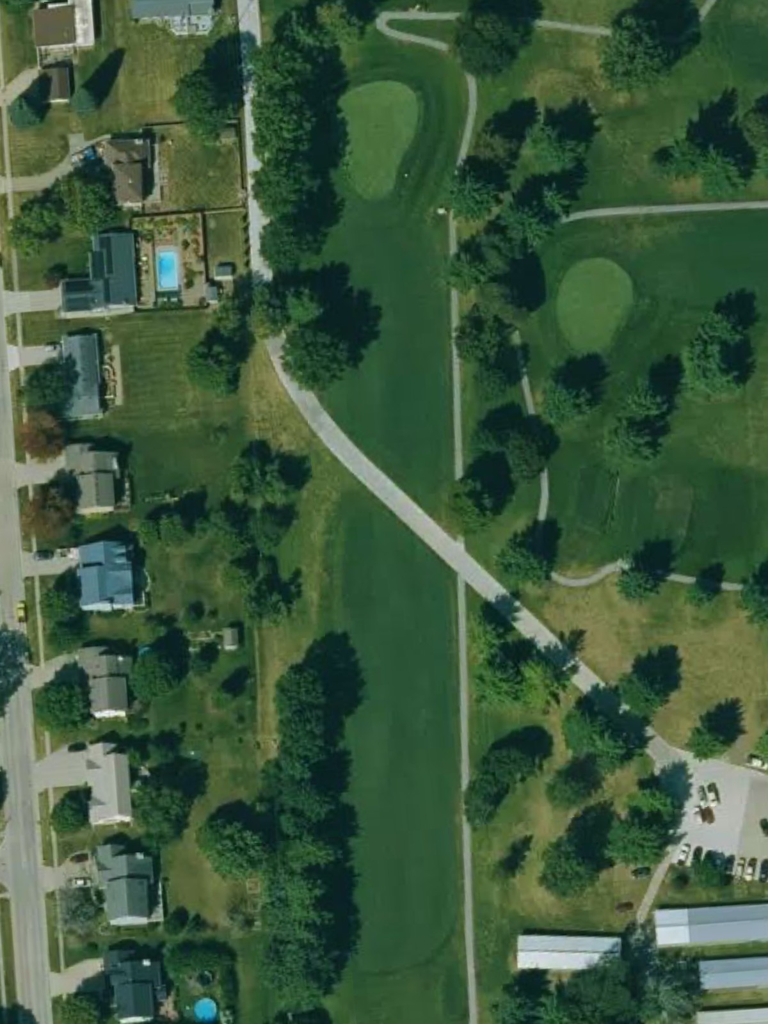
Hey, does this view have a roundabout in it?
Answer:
No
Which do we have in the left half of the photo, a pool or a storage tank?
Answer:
pool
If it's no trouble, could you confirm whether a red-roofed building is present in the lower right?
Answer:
No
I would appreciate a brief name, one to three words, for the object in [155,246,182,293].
swimming pool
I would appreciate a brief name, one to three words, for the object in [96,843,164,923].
house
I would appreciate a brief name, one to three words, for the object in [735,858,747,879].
vehicle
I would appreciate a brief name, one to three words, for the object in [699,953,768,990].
building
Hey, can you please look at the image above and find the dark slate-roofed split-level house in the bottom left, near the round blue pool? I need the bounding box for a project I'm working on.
[104,949,167,1021]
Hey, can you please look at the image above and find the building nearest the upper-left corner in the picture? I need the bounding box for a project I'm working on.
[34,0,94,49]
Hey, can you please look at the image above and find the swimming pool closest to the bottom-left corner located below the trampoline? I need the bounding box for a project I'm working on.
[193,997,217,1021]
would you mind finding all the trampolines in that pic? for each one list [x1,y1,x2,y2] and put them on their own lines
[197,968,214,985]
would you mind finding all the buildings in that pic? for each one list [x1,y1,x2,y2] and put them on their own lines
[77,644,132,716]
[699,953,768,990]
[131,0,213,36]
[654,900,768,946]
[63,332,101,420]
[517,934,621,971]
[107,138,151,210]
[78,540,147,610]
[216,263,232,279]
[96,843,164,923]
[66,442,130,514]
[87,740,132,824]
[34,0,94,49]
[62,230,137,316]
[221,124,236,140]
[104,949,167,1021]
[208,285,218,304]
[224,627,238,650]
[49,65,70,104]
